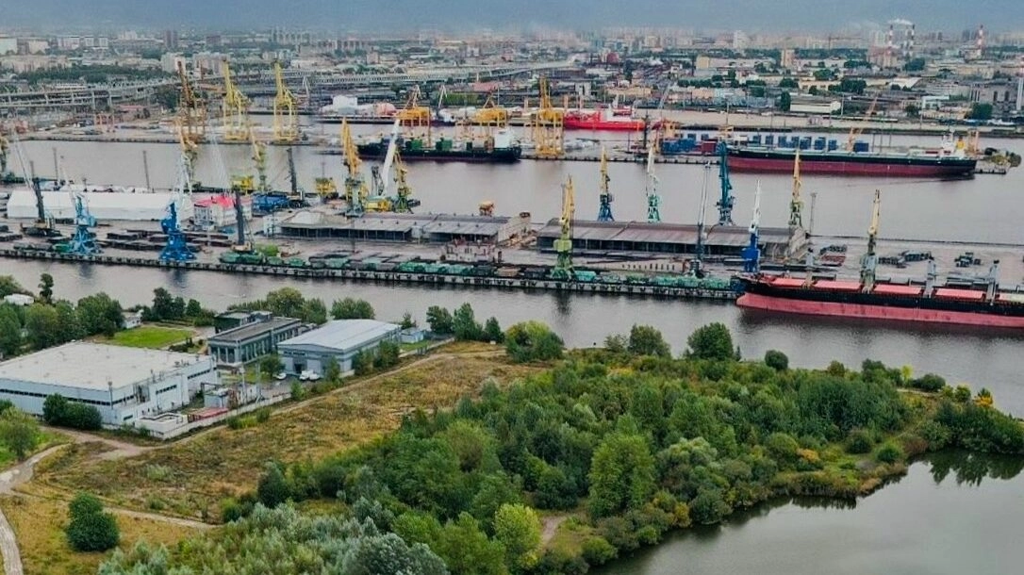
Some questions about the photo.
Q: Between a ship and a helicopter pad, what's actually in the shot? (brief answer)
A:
ship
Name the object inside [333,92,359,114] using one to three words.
building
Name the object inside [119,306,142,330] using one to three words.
house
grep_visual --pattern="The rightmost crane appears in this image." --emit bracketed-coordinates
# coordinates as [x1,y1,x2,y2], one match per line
[963,128,989,162]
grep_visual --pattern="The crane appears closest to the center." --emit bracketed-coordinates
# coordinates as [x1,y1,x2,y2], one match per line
[550,174,577,279]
